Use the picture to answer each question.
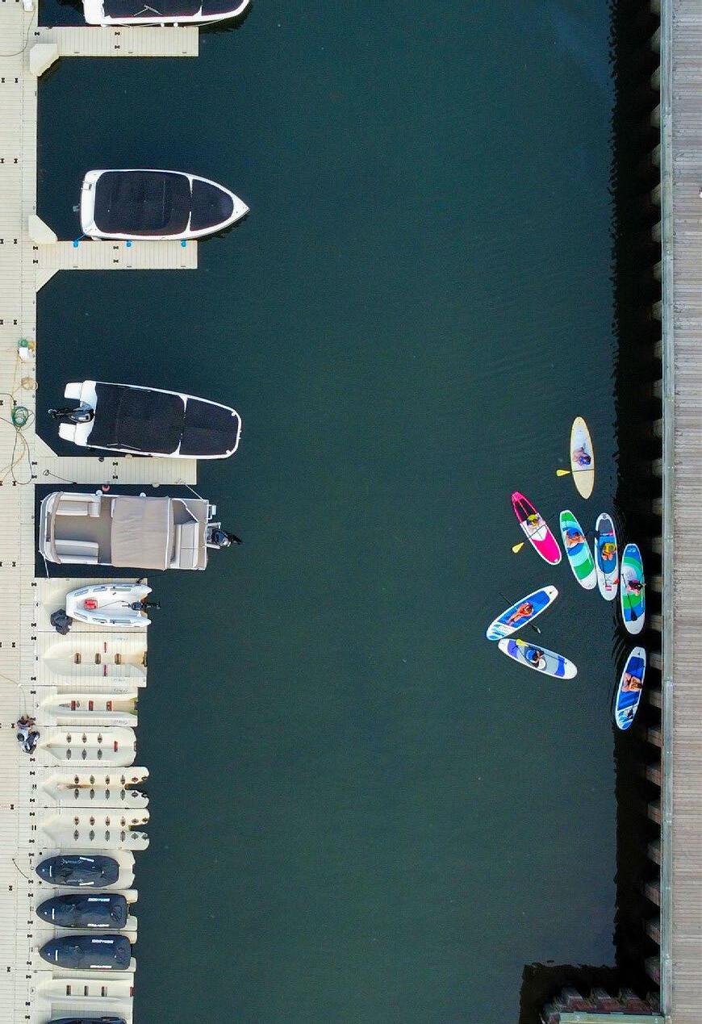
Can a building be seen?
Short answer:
No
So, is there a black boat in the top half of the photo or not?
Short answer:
Yes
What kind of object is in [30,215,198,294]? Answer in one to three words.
pier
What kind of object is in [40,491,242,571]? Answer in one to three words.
boat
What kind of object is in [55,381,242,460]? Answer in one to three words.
boat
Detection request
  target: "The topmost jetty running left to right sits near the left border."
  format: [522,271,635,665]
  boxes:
[31,28,200,84]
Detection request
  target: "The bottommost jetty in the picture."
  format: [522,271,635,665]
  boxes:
[532,986,661,1024]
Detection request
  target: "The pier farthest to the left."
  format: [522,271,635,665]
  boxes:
[0,0,41,1024]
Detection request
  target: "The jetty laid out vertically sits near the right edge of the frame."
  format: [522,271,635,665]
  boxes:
[648,0,702,1024]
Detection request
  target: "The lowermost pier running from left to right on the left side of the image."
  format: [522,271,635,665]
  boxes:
[32,434,198,484]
